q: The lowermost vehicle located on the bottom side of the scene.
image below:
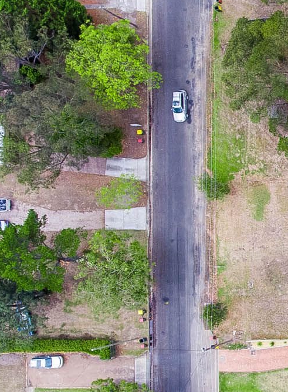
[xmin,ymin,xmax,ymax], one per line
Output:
[26,356,62,371]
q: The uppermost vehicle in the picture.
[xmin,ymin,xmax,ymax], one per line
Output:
[168,89,187,123]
